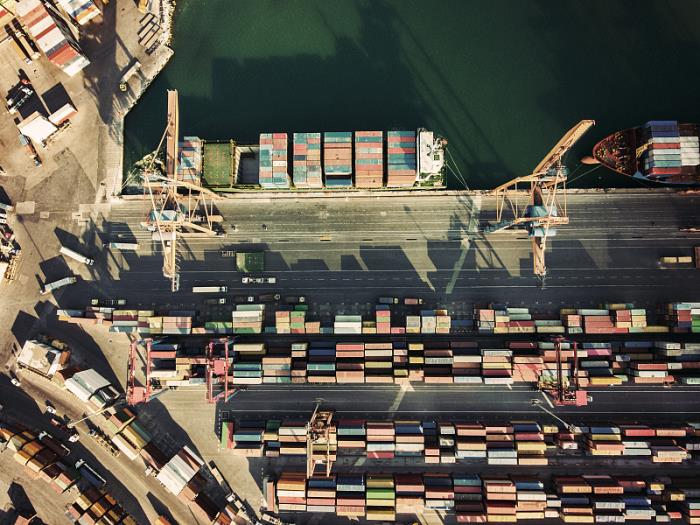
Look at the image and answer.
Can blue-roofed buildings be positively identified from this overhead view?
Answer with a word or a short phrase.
No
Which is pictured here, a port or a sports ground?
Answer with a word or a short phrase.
port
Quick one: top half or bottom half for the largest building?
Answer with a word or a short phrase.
bottom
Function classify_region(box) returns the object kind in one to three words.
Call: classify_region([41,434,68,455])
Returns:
truck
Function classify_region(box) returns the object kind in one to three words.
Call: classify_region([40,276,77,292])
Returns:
vehicle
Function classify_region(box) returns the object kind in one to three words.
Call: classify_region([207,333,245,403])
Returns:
container crane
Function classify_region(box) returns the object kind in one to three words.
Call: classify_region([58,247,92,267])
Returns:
vehicle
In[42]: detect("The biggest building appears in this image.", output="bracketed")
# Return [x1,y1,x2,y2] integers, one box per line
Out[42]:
[18,340,66,377]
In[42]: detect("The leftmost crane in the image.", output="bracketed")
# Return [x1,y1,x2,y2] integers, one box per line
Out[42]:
[129,334,173,404]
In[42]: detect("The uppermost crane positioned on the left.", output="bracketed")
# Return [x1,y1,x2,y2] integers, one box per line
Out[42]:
[144,93,228,296]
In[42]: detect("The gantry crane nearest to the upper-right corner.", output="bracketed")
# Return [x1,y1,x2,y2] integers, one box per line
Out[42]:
[487,113,590,273]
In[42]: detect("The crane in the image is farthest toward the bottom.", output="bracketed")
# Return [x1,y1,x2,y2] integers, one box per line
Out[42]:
[305,400,338,478]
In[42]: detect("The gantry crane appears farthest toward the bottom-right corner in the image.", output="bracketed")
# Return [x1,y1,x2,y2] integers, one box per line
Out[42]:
[537,332,581,404]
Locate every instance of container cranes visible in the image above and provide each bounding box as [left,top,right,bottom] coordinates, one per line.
[305,400,338,478]
[537,332,581,404]
[129,334,173,404]
[144,93,228,296]
[207,333,245,403]
[487,113,590,273]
